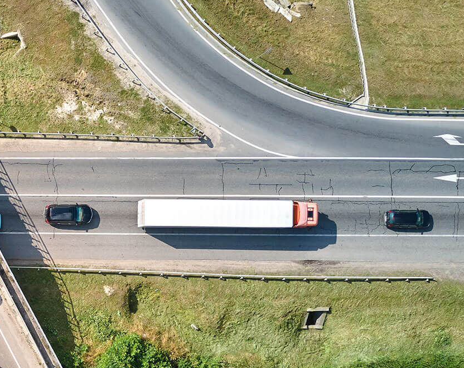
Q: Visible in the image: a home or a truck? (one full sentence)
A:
Looking from above, you can make out a truck.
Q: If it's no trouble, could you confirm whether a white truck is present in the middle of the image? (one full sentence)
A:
Yes, in the middle of the image there is a white truck.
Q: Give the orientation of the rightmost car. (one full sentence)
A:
The rightmost car has been laid out from side to side relative to the frame.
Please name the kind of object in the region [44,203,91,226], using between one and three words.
car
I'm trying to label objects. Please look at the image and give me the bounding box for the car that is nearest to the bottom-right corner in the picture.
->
[382,208,430,231]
